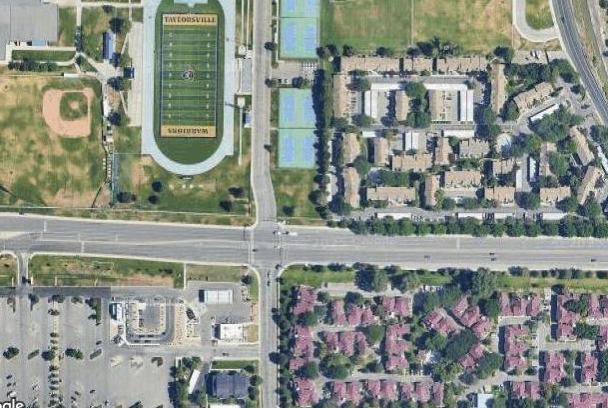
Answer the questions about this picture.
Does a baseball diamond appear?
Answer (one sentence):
Yes, the frame does contain a baseball diamond.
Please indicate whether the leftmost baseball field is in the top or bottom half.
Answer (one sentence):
The leftmost baseball field sits in the top half of the picture.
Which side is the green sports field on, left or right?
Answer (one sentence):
The green sports field sits on the left side.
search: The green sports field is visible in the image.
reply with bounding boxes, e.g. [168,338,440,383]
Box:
[154,0,224,164]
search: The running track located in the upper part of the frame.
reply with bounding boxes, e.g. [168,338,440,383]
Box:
[142,0,235,175]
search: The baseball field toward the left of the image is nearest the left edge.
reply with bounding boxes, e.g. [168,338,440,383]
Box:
[43,88,94,138]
